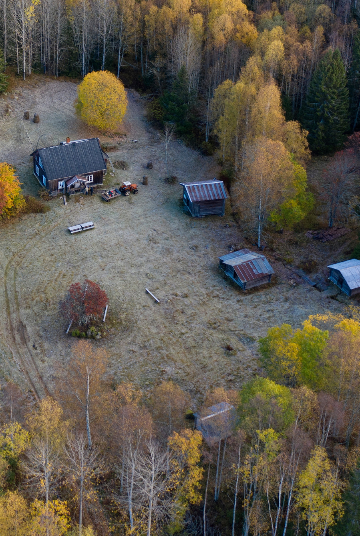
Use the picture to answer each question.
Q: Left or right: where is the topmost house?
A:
left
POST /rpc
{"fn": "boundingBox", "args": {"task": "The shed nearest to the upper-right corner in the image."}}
[184,179,227,216]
